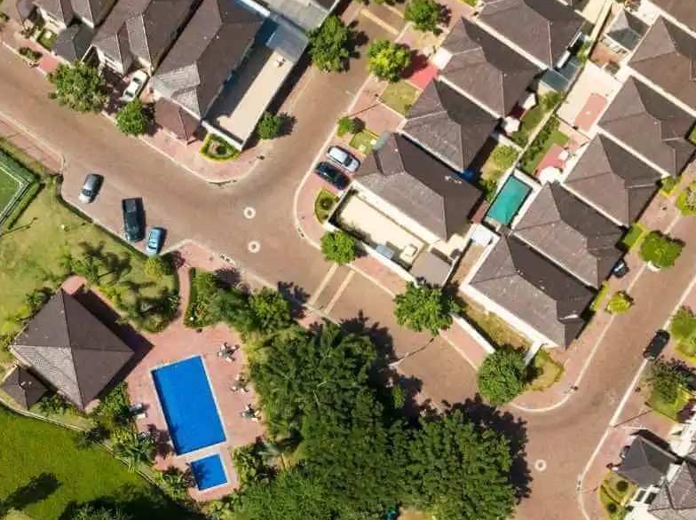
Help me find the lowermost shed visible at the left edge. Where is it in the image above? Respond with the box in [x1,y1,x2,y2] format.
[0,365,47,409]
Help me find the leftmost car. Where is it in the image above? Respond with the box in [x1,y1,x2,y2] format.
[80,173,102,205]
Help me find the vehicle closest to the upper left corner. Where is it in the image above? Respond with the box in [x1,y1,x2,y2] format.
[121,71,147,102]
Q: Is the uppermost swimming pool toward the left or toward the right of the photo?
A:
right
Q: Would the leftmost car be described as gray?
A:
Yes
